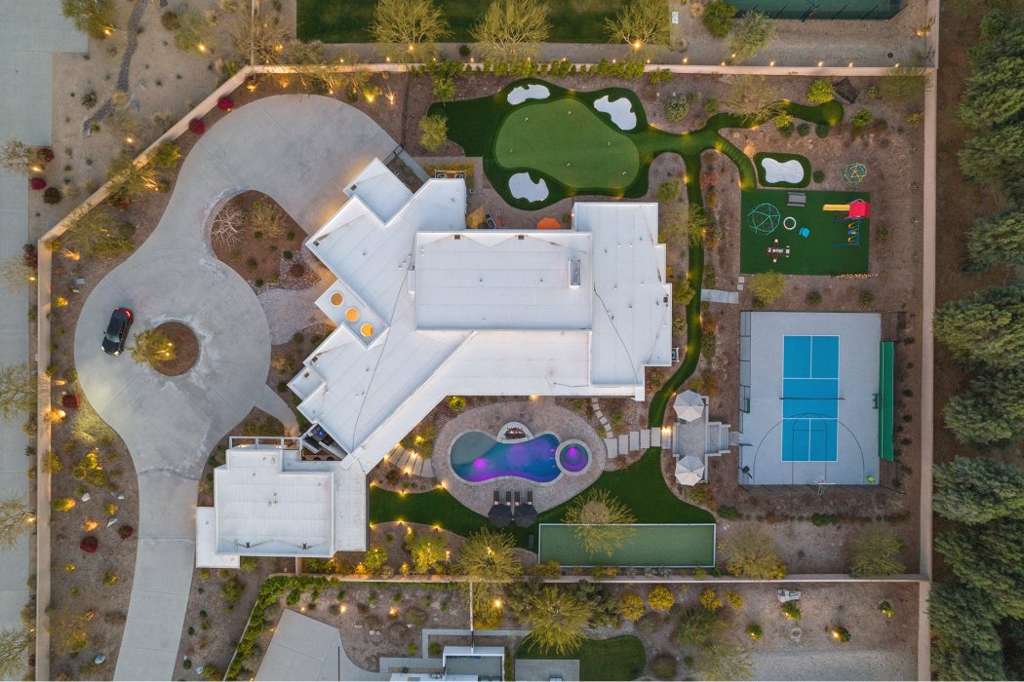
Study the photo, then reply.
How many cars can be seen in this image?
1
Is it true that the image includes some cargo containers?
No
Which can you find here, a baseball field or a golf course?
golf course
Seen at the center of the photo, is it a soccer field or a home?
home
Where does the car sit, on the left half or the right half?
left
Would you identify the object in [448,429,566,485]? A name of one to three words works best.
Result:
swimming pool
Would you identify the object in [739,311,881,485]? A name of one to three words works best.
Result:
sports court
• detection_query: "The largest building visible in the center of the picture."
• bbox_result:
[252,157,671,474]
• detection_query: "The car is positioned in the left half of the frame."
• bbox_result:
[102,308,133,355]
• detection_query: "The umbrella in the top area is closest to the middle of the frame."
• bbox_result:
[537,214,561,233]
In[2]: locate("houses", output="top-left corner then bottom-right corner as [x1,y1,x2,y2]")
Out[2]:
[391,646,504,682]
[252,157,671,474]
